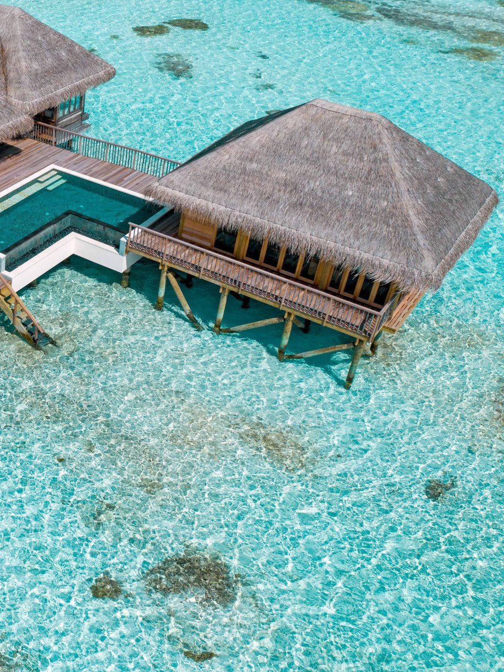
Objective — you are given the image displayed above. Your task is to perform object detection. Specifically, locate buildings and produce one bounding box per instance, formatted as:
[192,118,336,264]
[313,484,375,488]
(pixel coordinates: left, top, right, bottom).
[132,98,504,384]
[0,2,114,149]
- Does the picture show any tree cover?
No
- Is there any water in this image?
Yes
